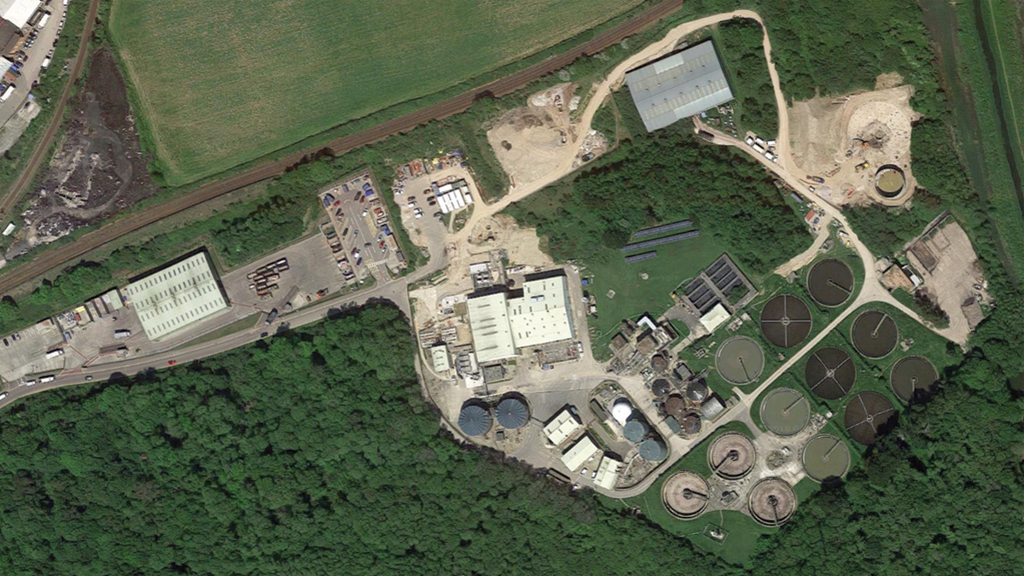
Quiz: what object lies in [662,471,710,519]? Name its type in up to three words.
storage tank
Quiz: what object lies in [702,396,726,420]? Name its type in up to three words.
house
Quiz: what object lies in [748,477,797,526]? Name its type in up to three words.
storage tank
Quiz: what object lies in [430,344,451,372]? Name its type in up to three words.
shed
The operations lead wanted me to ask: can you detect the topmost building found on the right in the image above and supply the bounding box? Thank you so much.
[626,40,735,132]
